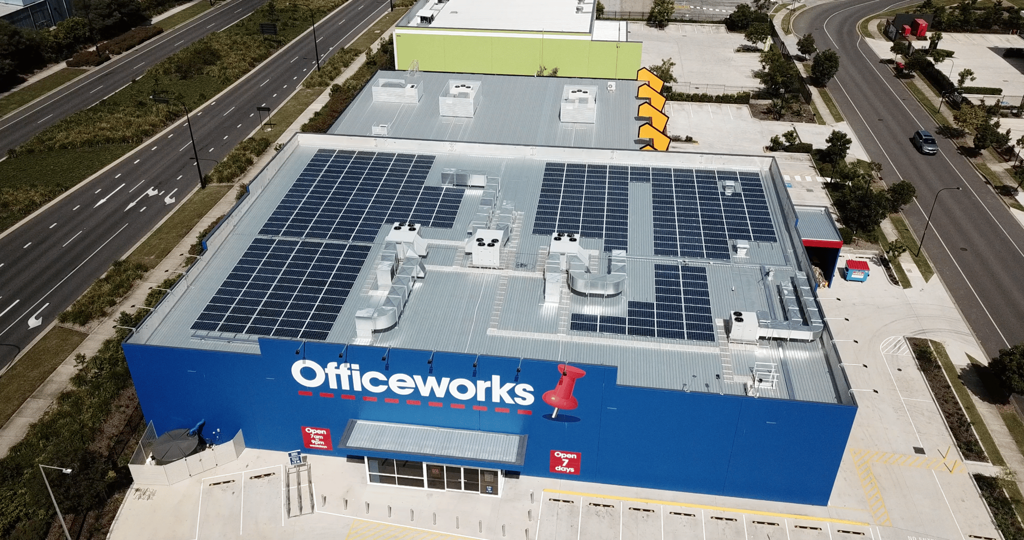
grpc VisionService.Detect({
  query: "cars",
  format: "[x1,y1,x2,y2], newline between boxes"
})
[914,129,939,152]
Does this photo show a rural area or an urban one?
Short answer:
urban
